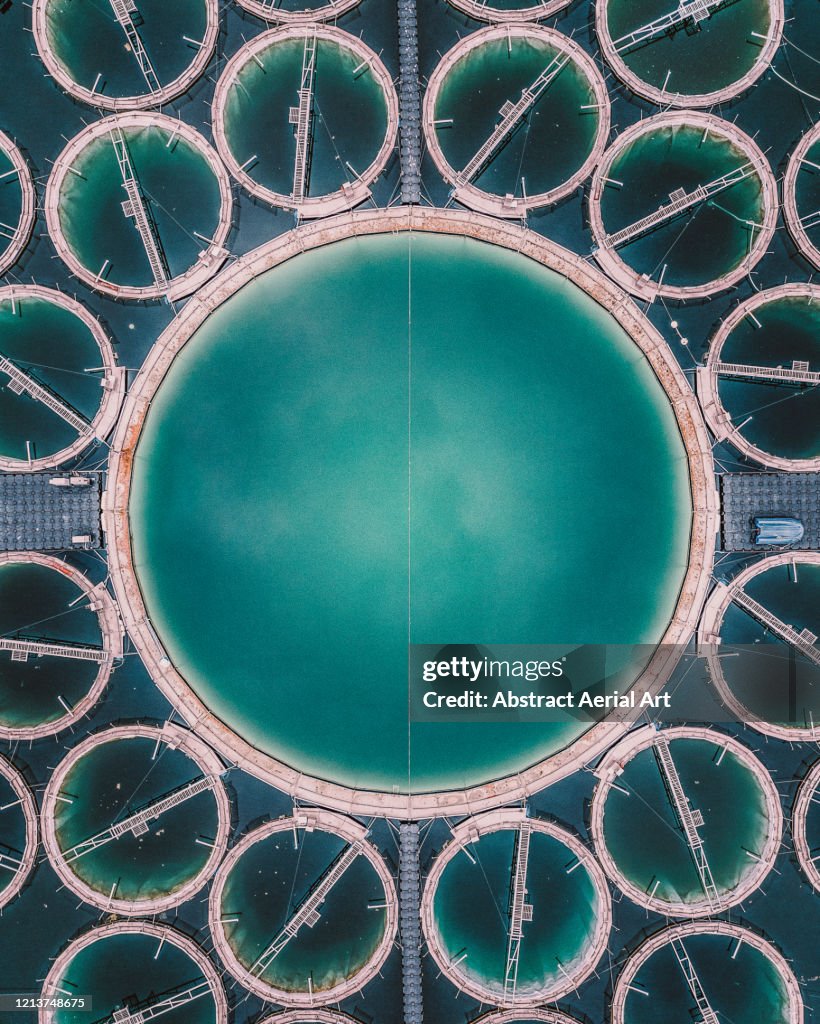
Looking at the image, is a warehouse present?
No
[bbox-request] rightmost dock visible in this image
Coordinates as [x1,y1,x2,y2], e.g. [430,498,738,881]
[712,458,820,567]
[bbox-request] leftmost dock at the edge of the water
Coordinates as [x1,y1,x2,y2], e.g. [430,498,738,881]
[0,455,108,564]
